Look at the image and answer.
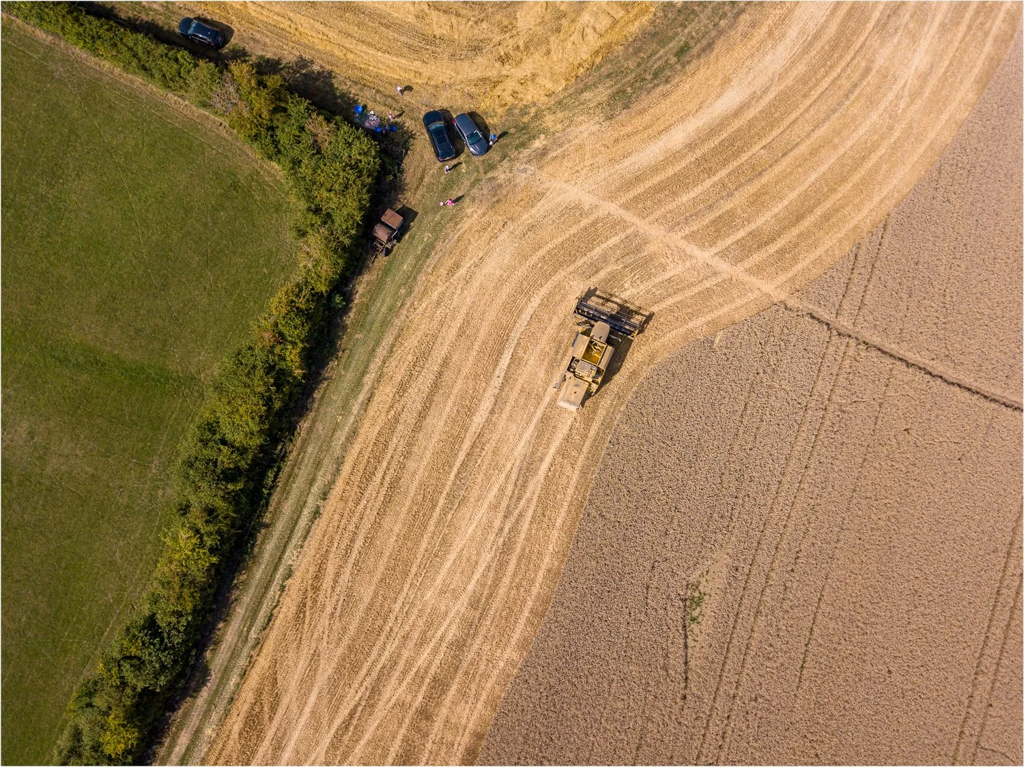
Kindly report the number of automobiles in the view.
3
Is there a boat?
No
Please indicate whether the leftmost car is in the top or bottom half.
top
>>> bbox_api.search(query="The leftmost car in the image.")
[177,15,227,48]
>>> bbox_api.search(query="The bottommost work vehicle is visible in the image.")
[552,291,642,413]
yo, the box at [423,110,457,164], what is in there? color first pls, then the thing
black car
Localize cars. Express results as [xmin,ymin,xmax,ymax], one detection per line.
[423,110,457,164]
[455,111,490,157]
[177,15,227,48]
